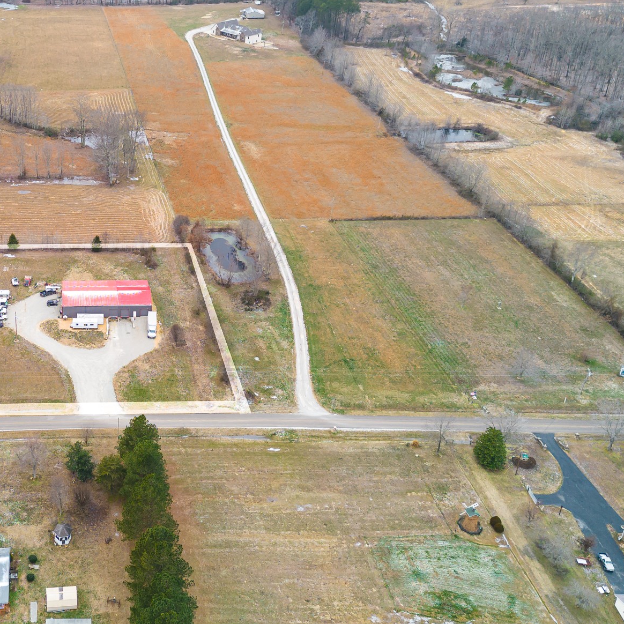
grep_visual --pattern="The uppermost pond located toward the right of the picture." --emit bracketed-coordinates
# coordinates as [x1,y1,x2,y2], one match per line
[432,53,558,106]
